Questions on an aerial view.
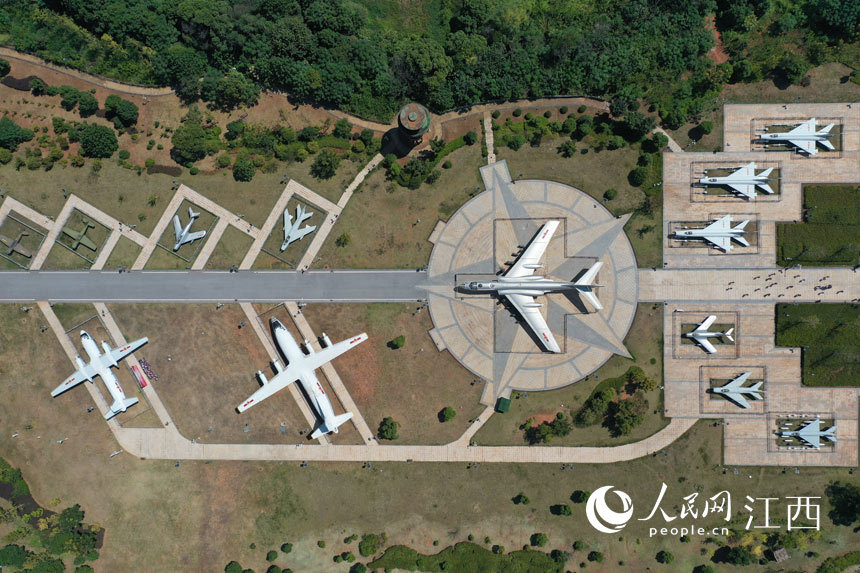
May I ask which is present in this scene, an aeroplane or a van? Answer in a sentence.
Of the two, only an aeroplane appears.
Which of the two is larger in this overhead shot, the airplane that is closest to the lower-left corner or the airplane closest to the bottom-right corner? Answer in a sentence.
Compared with the airplane closest to the bottom-right corner, the airplane that is closest to the lower-left corner is the bigger one.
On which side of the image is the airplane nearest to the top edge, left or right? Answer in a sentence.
The airplane nearest to the top edge is on the right side of the image.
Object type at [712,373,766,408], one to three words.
airplane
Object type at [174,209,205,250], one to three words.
airplane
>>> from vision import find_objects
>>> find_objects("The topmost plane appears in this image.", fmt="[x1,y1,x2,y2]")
[757,119,838,155]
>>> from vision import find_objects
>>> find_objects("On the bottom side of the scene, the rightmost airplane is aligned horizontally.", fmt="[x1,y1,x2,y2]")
[780,420,839,448]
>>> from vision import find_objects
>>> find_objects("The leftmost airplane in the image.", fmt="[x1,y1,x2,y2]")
[0,225,33,257]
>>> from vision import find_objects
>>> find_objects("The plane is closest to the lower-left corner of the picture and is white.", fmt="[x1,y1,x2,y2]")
[50,331,149,418]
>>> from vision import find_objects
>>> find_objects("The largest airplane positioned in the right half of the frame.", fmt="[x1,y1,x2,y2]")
[456,222,603,351]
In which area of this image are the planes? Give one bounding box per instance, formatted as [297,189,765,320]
[780,420,839,448]
[281,202,315,253]
[174,209,205,250]
[685,316,732,354]
[50,331,149,418]
[757,119,838,155]
[712,373,766,408]
[0,225,33,257]
[674,215,751,251]
[456,222,603,351]
[235,318,367,440]
[698,163,777,198]
[61,218,97,251]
